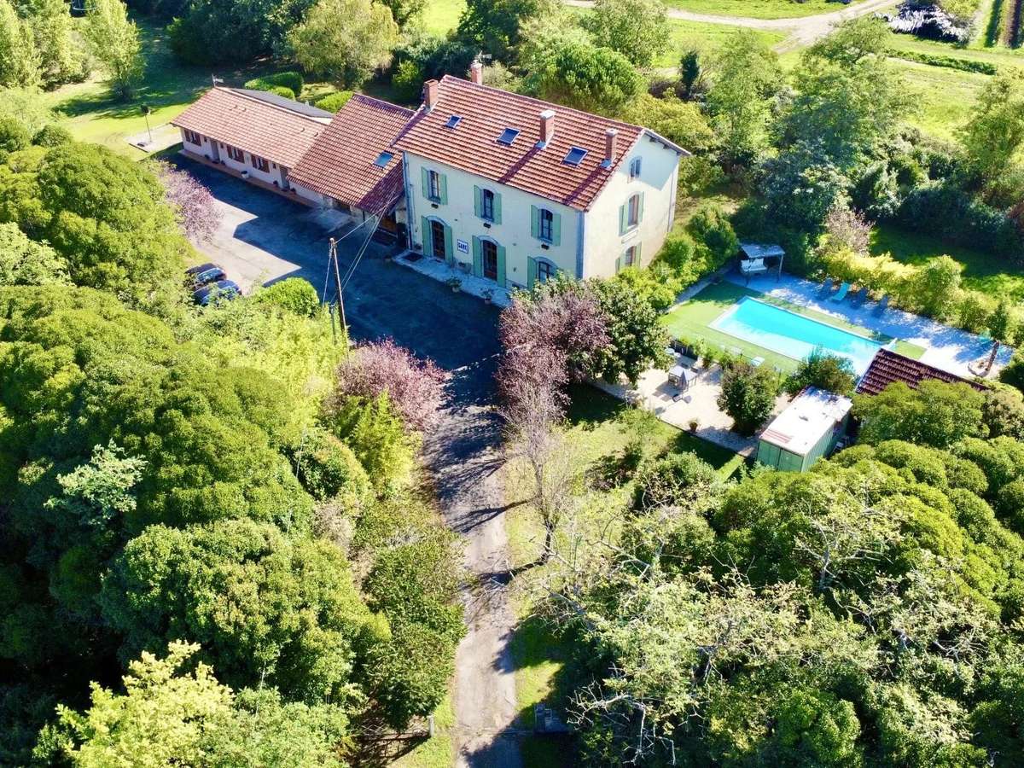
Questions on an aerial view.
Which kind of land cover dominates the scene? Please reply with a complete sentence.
Most of the picture is covered by trees.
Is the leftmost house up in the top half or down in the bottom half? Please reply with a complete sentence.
The leftmost house is in the top half of the image.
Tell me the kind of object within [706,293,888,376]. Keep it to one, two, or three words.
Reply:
swimming pool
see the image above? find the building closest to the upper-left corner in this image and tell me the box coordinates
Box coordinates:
[172,83,341,213]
